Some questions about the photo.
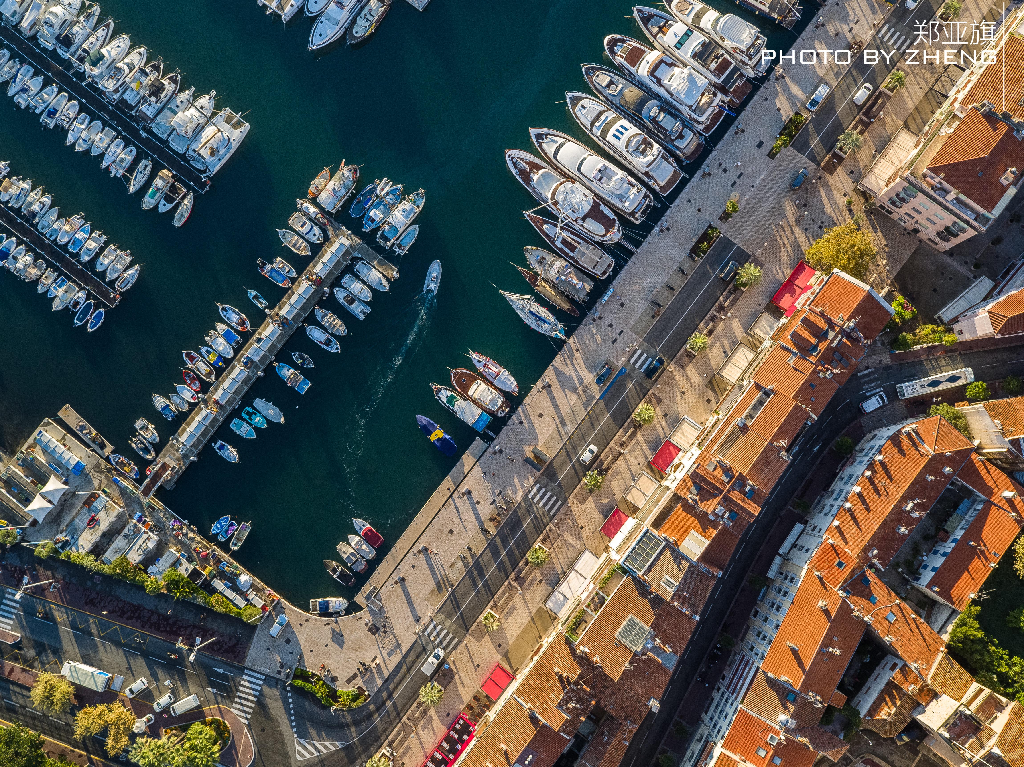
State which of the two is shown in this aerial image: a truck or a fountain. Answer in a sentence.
The image shows a truck.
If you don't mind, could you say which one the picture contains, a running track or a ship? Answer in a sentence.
Looking from above, you can make out a ship.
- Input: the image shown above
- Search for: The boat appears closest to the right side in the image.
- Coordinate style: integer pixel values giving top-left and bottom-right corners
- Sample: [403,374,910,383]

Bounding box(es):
[741,0,806,38]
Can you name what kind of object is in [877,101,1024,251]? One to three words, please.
building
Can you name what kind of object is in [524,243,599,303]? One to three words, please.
ship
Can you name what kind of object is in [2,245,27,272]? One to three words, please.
boat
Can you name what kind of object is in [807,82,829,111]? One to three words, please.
truck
